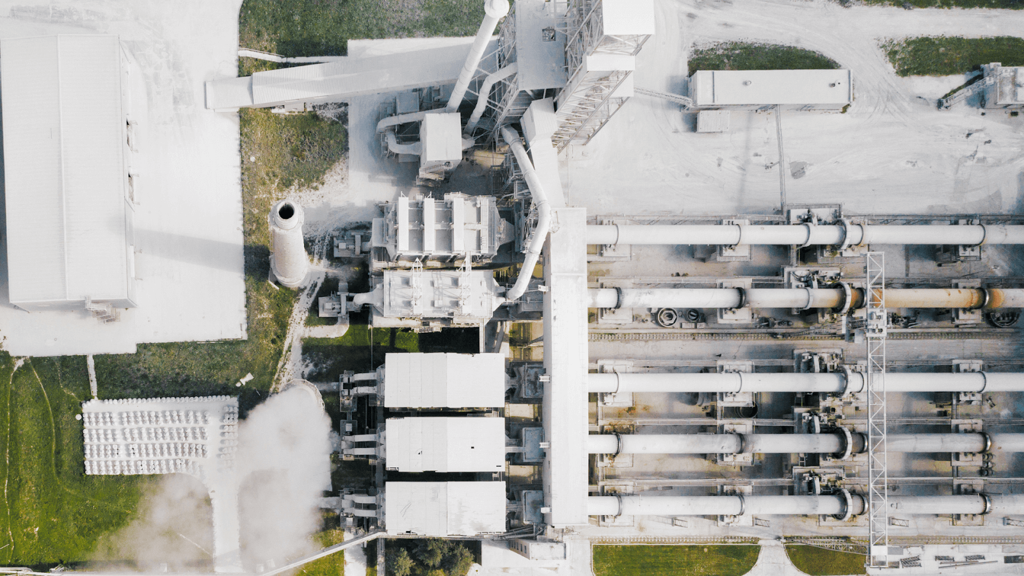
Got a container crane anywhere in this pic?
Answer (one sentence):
Yes, this view includes a container crane.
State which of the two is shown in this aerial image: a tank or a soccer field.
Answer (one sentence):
I can see a tank in this picture.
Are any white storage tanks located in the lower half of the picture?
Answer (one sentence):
Yes, looking in the lower half of the picture, one can make out a white storage tank.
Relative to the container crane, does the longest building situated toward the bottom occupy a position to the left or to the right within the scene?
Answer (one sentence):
You can see the longest building situated toward the bottom positioned to the left of the container crane.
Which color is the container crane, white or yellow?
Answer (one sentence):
In this view, the container crane is white.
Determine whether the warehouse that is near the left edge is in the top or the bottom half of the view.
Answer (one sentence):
The warehouse that is near the left edge is in the top half of the image.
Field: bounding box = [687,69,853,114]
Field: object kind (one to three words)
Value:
building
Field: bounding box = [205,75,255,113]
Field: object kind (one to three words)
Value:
house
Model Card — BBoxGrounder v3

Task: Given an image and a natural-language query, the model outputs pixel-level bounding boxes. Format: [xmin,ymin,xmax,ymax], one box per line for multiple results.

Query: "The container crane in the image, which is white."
[765,252,887,567]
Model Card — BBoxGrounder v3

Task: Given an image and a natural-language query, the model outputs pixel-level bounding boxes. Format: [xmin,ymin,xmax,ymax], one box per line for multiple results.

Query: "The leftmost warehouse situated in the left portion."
[0,33,146,309]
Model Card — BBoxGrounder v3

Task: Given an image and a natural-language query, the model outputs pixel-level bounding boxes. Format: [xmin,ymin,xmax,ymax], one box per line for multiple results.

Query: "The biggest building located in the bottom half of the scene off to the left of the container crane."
[530,208,588,529]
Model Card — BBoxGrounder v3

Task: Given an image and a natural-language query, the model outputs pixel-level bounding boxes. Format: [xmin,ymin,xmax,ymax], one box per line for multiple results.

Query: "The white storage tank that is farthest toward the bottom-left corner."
[269,380,324,435]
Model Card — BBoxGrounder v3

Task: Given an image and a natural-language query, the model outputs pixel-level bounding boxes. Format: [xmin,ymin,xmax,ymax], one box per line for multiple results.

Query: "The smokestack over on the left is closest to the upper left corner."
[268,199,316,296]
